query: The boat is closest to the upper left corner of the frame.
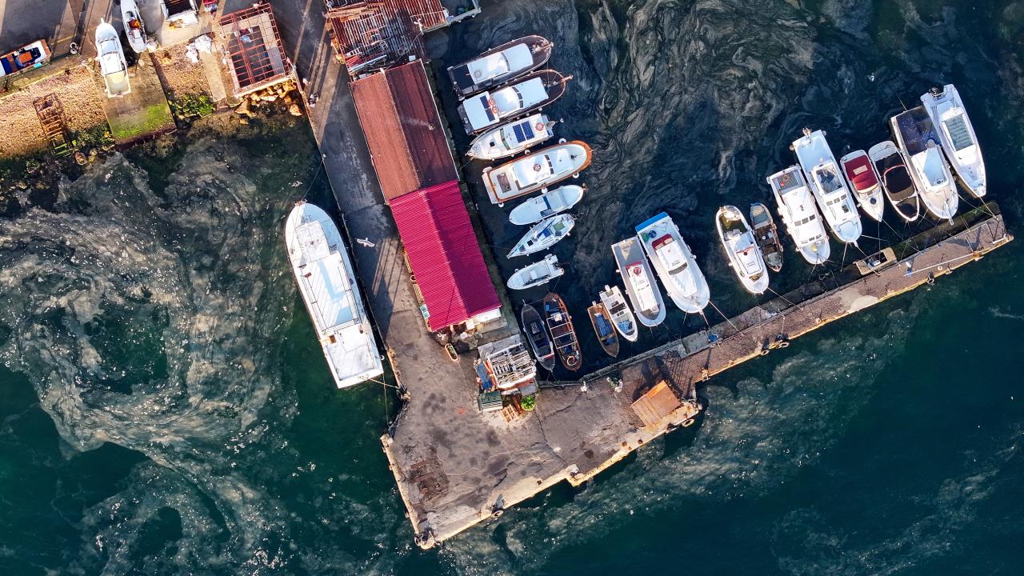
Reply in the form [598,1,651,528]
[0,39,53,78]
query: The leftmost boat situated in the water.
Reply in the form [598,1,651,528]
[286,200,385,389]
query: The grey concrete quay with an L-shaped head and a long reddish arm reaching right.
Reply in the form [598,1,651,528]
[292,0,1009,549]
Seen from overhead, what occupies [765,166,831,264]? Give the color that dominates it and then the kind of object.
white boat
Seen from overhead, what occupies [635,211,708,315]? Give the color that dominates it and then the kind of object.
white boat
